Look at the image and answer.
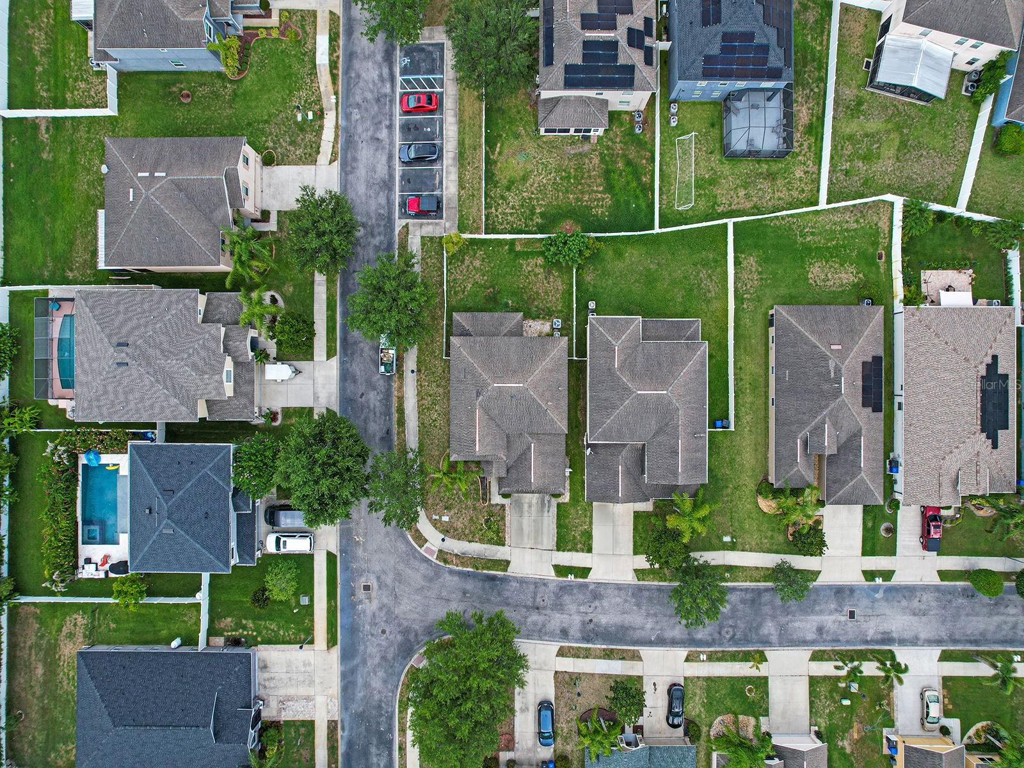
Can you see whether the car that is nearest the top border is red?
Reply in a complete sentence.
Yes, the car that is nearest the top border is red.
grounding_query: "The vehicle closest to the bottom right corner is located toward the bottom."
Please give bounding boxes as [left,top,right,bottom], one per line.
[920,686,943,729]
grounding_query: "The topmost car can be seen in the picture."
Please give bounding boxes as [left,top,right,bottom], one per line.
[401,93,440,114]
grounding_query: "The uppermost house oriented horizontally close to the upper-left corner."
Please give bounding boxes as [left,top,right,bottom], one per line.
[93,0,263,69]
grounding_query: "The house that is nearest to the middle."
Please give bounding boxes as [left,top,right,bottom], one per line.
[449,312,568,495]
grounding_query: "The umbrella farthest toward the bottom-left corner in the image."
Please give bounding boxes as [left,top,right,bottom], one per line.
[74,456,91,472]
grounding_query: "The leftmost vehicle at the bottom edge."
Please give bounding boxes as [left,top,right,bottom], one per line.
[536,701,555,743]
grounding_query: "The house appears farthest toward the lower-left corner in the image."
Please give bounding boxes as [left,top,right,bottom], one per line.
[76,646,269,768]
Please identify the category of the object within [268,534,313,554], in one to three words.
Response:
car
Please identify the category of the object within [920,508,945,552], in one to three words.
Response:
truck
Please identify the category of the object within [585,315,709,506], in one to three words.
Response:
house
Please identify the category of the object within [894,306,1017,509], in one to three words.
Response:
house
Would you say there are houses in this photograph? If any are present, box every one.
[769,305,885,505]
[584,728,697,768]
[585,315,709,506]
[538,0,656,143]
[894,736,1020,768]
[449,312,568,495]
[894,306,1017,509]
[75,289,261,422]
[878,0,1024,66]
[669,0,794,99]
[76,646,269,768]
[93,0,263,69]
[128,442,261,573]
[105,136,262,271]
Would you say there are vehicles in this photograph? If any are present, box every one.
[920,508,945,552]
[401,93,440,114]
[407,195,444,215]
[536,701,555,743]
[377,334,397,374]
[666,683,686,725]
[265,507,311,528]
[399,143,440,164]
[268,534,313,554]
[920,686,943,729]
